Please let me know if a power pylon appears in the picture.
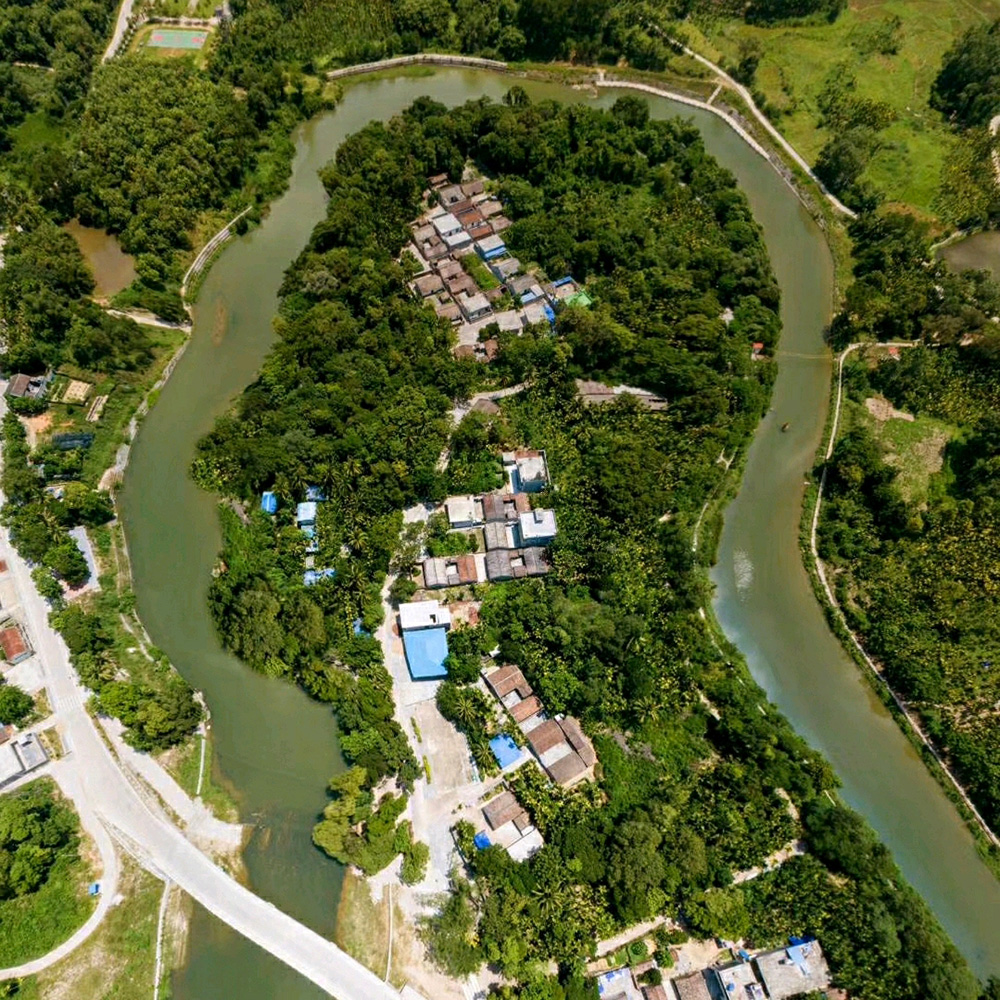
No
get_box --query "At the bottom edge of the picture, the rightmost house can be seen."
[751,940,830,1000]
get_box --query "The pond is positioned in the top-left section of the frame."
[64,221,137,298]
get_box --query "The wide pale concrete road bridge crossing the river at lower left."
[167,854,406,1000]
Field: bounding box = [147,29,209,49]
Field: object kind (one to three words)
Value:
basketball court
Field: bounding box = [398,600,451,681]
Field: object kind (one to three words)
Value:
building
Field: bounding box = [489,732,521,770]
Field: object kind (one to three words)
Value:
shed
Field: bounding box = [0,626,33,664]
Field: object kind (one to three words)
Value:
house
